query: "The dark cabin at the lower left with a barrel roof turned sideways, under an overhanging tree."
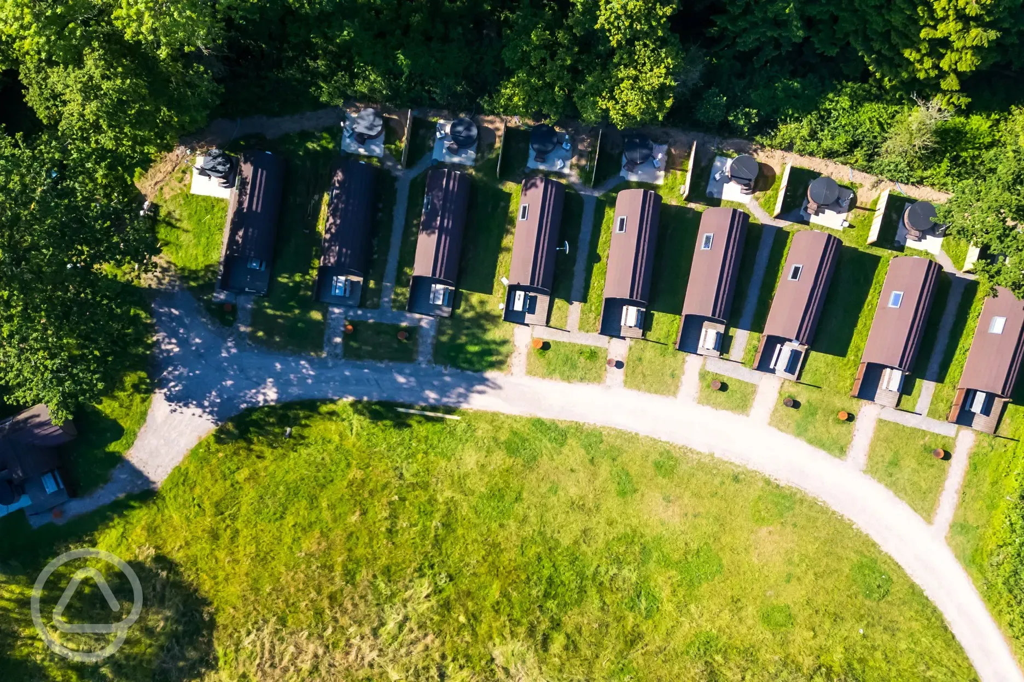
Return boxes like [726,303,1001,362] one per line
[0,400,88,515]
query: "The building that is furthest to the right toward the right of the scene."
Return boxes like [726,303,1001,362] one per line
[944,285,1024,435]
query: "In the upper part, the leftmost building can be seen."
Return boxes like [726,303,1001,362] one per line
[216,146,290,299]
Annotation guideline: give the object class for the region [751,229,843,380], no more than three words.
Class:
building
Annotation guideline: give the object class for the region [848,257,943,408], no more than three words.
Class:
building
